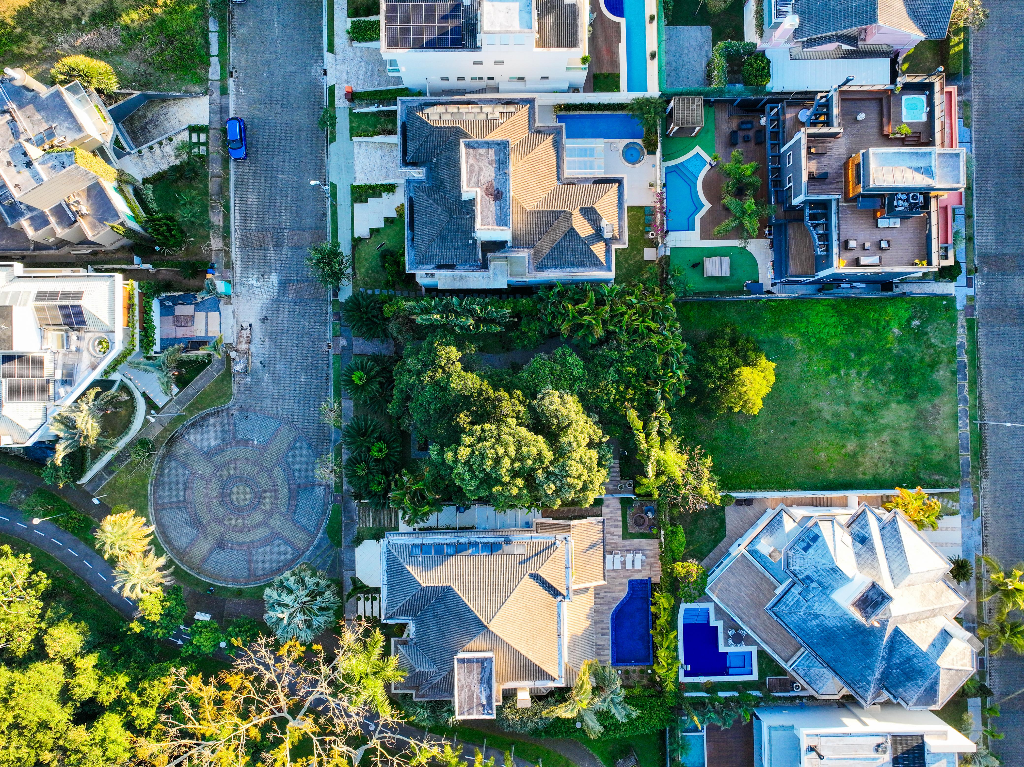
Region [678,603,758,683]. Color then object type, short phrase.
blue swimming pool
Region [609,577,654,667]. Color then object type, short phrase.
blue swimming pool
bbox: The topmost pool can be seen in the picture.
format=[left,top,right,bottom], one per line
[599,0,647,89]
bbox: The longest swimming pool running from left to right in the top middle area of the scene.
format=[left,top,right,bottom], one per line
[554,111,646,141]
